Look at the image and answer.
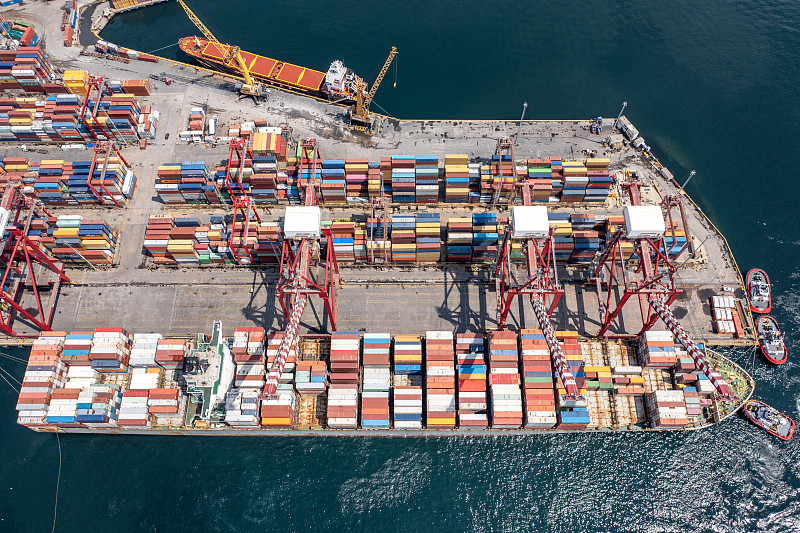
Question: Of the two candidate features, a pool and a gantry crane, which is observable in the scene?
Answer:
gantry crane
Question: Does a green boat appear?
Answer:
No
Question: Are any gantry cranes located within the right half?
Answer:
Yes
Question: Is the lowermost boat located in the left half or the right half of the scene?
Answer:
right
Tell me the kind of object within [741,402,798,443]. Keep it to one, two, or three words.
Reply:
boat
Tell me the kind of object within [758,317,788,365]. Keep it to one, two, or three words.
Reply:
boat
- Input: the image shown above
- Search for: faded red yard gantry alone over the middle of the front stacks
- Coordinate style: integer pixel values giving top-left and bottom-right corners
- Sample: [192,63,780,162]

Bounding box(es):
[370,199,388,266]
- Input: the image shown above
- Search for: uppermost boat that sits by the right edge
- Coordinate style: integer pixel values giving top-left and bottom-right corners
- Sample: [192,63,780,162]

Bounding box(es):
[745,269,773,313]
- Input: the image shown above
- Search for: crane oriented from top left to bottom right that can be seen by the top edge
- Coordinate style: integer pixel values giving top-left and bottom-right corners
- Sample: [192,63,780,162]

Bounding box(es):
[177,0,260,98]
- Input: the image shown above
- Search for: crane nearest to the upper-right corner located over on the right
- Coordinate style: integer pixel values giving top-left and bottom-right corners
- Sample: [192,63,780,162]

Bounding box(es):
[659,198,695,264]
